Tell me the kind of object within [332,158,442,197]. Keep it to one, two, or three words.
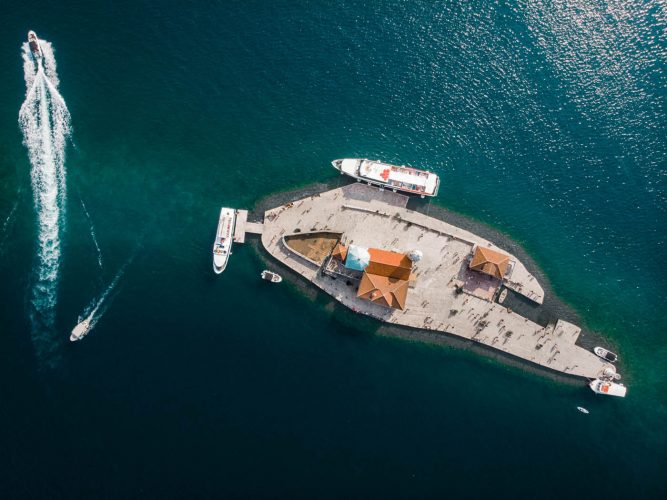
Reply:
ship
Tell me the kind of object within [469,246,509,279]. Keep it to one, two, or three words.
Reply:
building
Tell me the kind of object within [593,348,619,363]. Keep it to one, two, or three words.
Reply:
boat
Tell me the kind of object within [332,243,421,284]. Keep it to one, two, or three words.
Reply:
building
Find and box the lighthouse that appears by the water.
[604,366,622,379]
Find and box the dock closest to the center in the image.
[234,210,263,243]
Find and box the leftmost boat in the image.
[31,31,46,61]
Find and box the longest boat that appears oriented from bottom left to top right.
[70,315,94,341]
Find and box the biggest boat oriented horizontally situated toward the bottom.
[588,380,628,397]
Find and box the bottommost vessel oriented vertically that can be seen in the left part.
[214,207,236,274]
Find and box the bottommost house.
[357,271,409,310]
